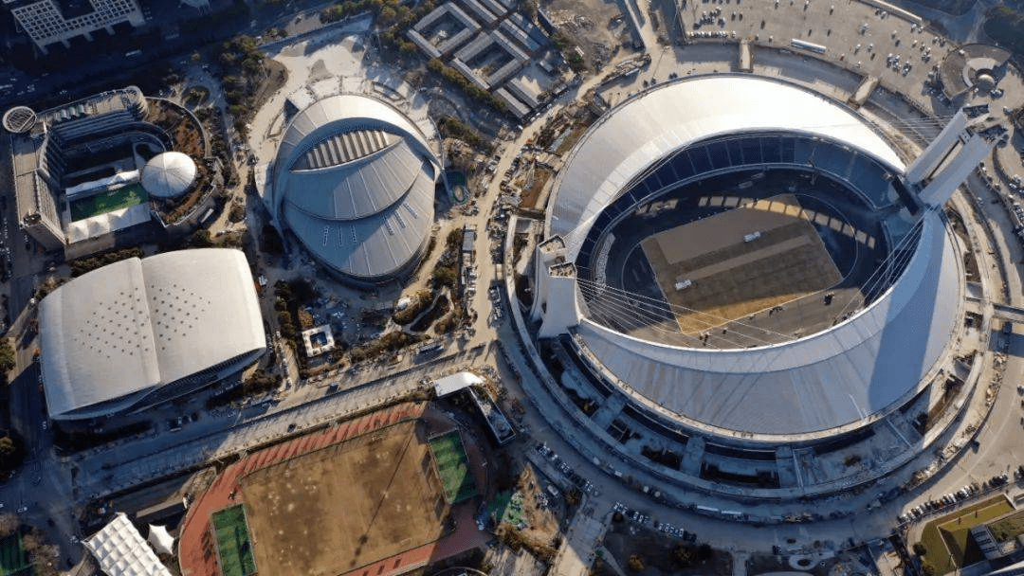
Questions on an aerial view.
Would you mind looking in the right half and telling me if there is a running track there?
Yes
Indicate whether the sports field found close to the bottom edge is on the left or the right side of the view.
left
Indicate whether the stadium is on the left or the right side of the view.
right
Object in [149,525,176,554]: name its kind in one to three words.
tent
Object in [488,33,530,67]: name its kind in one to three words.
house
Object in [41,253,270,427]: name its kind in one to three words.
building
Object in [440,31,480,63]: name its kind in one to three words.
house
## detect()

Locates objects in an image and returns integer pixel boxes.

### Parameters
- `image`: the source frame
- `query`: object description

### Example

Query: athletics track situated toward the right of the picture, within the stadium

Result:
[605,182,883,344]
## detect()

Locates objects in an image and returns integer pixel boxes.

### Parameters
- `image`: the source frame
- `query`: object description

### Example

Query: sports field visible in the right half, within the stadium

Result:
[641,194,842,332]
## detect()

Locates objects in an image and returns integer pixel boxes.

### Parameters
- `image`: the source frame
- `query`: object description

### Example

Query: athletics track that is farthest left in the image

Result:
[179,404,500,576]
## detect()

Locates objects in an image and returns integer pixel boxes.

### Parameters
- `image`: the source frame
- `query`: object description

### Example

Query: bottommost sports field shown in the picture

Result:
[240,421,447,576]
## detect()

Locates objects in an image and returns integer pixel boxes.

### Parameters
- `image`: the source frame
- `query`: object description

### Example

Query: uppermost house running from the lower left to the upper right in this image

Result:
[414,3,453,39]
